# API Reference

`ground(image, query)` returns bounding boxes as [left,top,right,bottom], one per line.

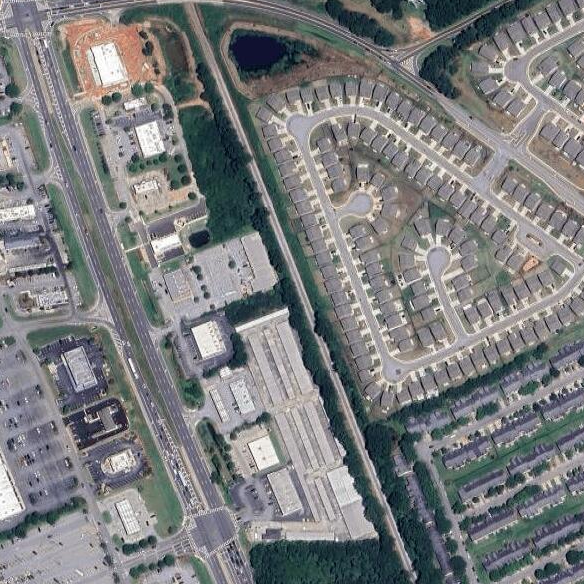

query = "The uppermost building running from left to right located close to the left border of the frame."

[0,205,37,224]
